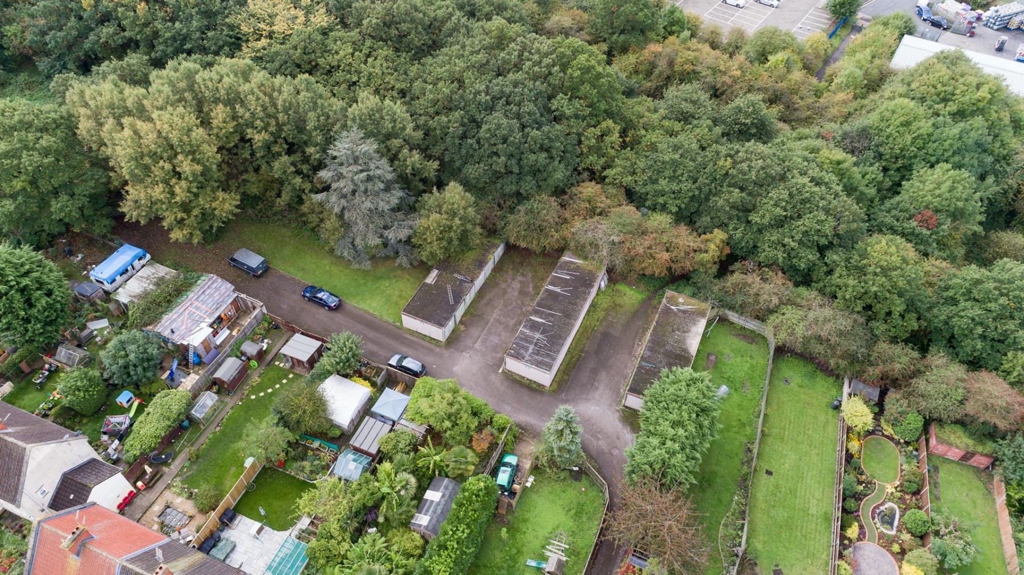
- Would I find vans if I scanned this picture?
Yes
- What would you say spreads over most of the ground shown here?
trees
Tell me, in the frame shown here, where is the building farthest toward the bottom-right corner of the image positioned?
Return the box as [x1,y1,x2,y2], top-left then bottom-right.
[922,421,996,472]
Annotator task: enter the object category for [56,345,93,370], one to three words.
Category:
greenhouse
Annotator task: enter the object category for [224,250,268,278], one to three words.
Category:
van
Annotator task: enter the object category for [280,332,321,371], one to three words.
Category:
shed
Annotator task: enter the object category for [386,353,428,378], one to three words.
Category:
car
